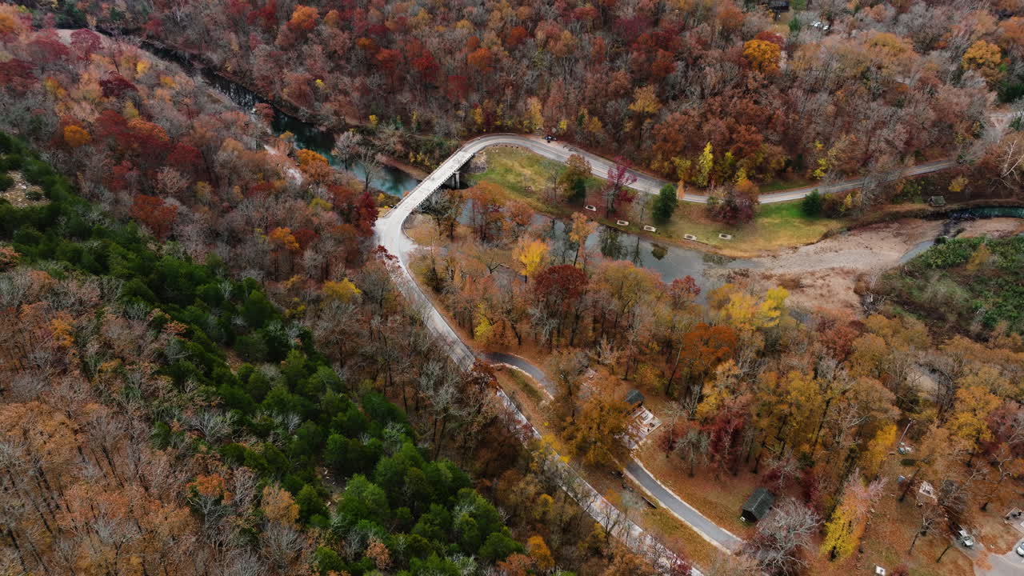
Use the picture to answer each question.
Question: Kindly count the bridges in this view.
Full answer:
I count just 1 bridge.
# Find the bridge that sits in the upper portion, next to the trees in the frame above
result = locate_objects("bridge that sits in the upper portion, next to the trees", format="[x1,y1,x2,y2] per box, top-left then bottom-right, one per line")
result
[394,145,479,210]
